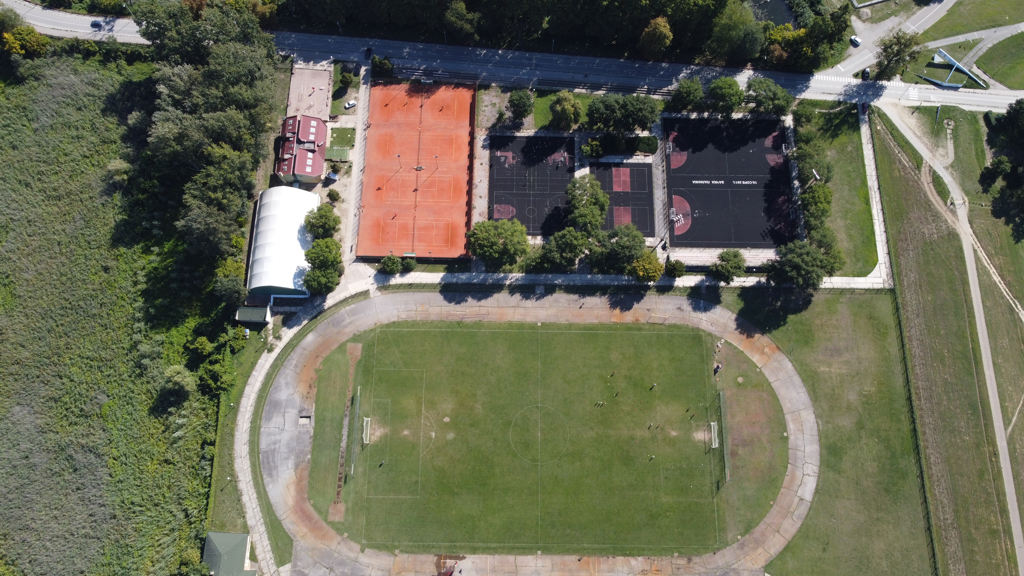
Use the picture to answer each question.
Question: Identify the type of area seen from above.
sports ground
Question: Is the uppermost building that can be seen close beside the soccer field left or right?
left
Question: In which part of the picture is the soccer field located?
bottom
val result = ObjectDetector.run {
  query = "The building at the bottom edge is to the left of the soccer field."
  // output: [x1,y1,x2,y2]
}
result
[201,532,260,576]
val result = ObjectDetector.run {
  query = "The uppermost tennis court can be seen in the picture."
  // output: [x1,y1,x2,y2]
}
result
[368,85,477,128]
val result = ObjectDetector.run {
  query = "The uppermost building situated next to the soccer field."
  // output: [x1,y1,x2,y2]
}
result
[246,182,321,307]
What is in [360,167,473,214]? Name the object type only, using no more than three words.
tennis court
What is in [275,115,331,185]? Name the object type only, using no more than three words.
building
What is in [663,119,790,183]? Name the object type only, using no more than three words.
sports court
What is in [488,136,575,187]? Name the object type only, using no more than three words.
basketball court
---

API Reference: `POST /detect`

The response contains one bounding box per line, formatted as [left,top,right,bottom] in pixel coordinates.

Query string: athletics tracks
[259,292,820,576]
